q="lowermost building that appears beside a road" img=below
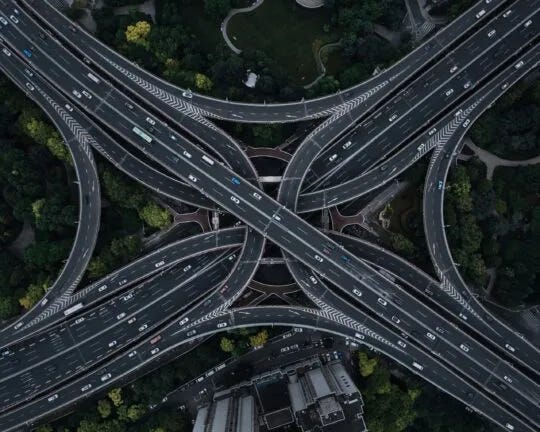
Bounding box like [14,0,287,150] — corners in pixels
[190,352,369,432]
